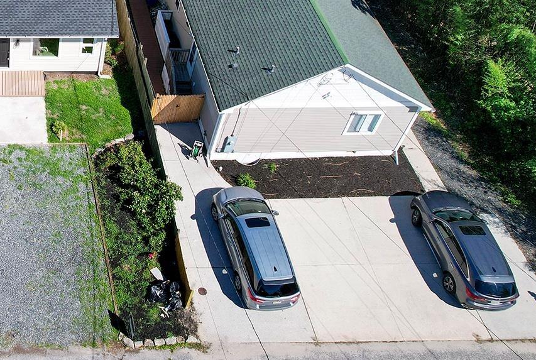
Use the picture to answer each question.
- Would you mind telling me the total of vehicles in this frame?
two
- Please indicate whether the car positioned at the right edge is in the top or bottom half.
bottom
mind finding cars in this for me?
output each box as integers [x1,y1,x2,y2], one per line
[413,193,516,315]
[218,192,301,315]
